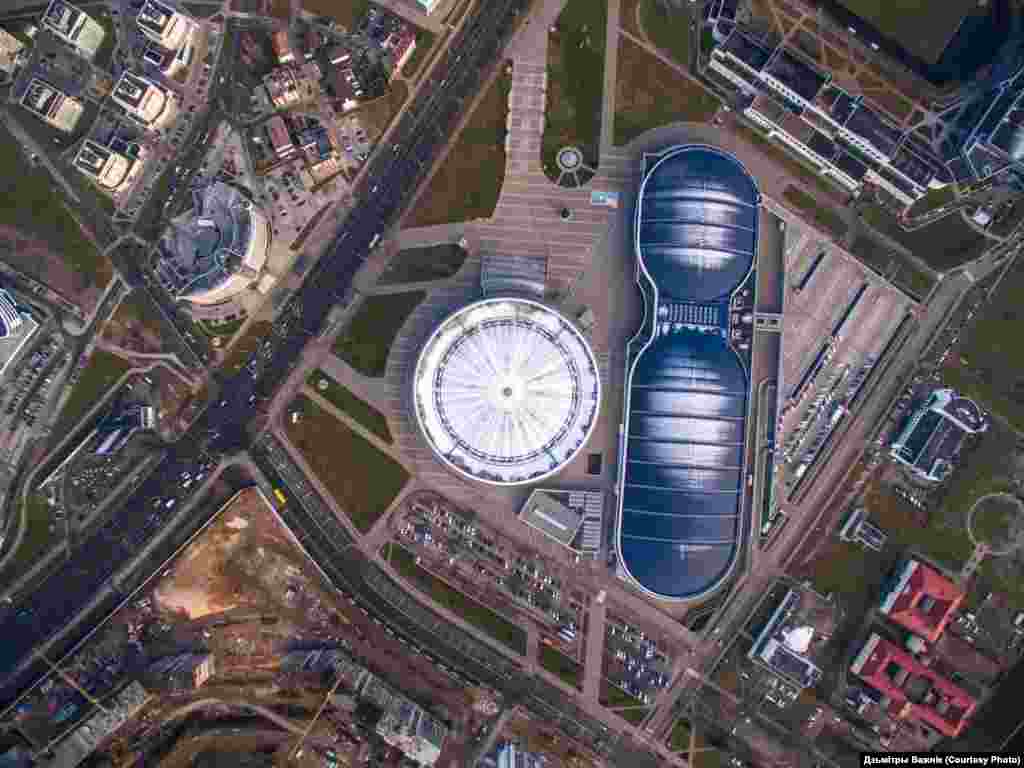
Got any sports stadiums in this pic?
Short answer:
Yes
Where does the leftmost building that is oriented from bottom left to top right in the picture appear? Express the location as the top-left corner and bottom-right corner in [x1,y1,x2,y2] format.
[0,318,45,380]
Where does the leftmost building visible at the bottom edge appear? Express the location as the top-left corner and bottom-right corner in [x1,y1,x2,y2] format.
[38,671,154,768]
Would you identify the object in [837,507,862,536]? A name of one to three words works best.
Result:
house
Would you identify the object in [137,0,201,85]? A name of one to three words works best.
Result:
building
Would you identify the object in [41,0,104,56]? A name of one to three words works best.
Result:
building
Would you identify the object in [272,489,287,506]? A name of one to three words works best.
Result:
vehicle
